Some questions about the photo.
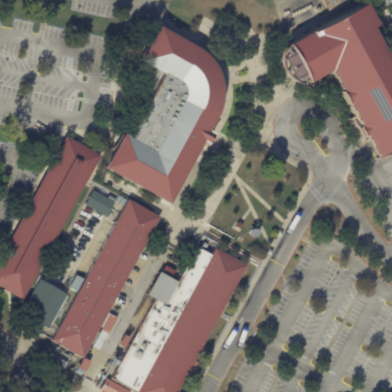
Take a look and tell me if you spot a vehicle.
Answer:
Yes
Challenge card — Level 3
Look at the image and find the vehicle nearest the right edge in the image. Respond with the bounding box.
[285,210,302,234]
